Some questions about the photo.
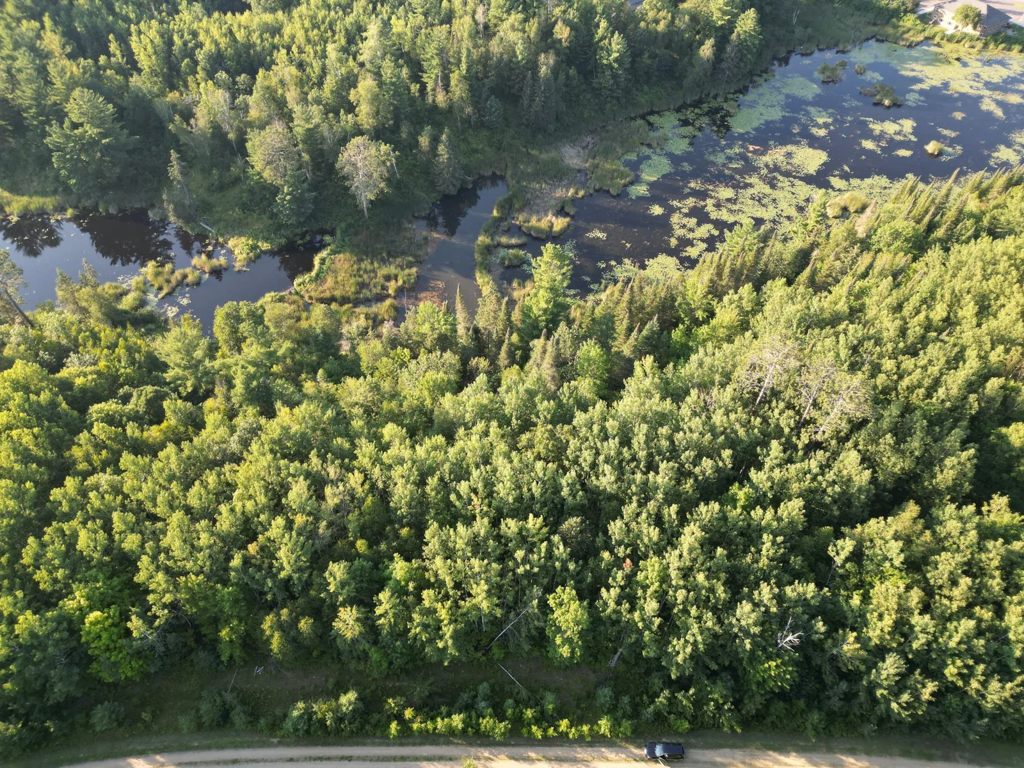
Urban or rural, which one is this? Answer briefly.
rural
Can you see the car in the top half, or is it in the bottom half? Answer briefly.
bottom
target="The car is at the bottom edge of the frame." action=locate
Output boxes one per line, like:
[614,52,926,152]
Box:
[645,740,686,768]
